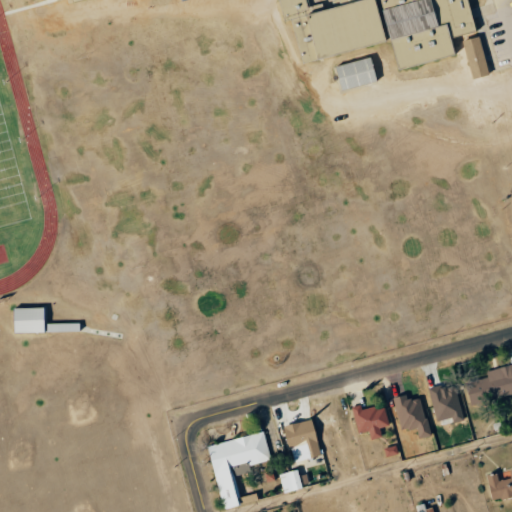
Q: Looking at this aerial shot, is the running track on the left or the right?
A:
left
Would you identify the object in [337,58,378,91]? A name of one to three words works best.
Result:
shed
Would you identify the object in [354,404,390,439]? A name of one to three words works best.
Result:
house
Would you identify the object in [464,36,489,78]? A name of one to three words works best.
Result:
building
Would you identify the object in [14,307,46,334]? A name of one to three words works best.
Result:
barn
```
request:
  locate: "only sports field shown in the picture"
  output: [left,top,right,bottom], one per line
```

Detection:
[0,50,44,280]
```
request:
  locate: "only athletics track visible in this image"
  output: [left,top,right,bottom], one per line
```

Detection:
[0,8,58,294]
